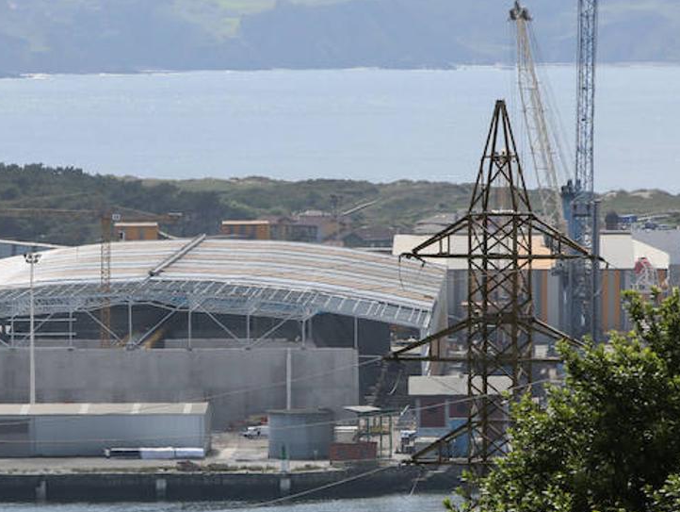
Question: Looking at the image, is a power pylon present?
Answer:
Yes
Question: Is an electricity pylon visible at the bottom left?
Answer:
No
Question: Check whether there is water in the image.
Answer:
Yes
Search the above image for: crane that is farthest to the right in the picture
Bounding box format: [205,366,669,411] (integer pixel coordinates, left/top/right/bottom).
[564,0,603,367]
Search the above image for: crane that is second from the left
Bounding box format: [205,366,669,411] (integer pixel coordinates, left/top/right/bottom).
[510,0,573,354]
